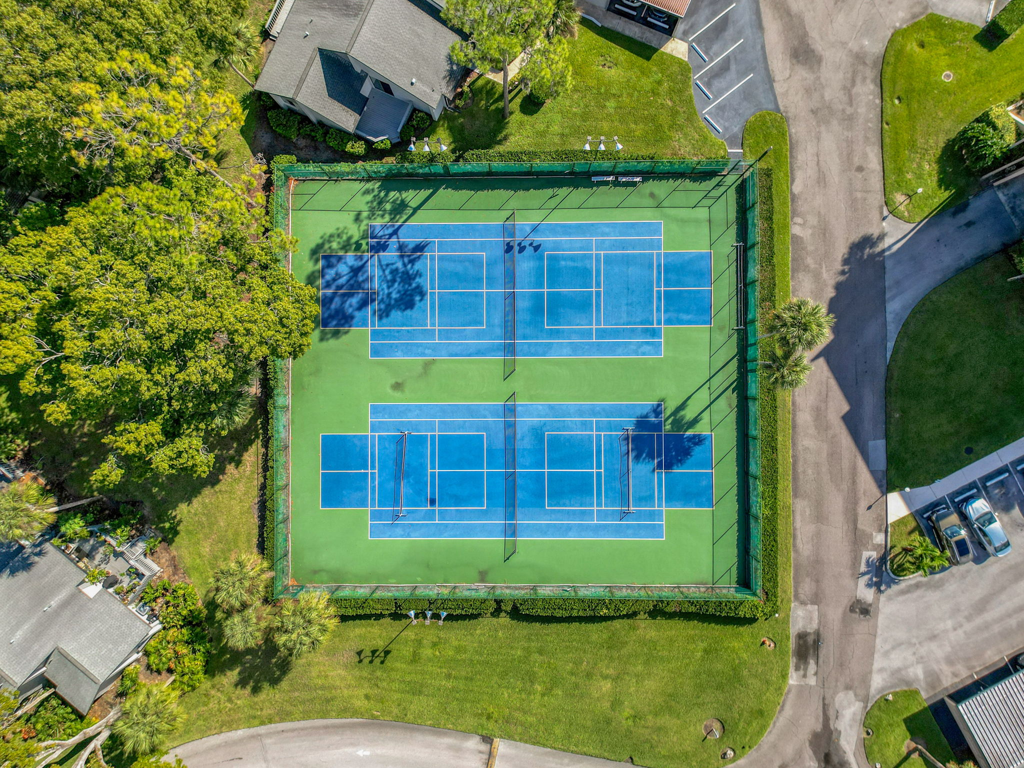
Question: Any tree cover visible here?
Yes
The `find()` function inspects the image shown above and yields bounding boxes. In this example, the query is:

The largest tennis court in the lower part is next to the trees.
[289,380,746,586]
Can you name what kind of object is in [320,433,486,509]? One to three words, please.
sports court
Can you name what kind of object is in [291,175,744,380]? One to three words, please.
tennis court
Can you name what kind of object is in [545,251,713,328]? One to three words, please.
sports court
